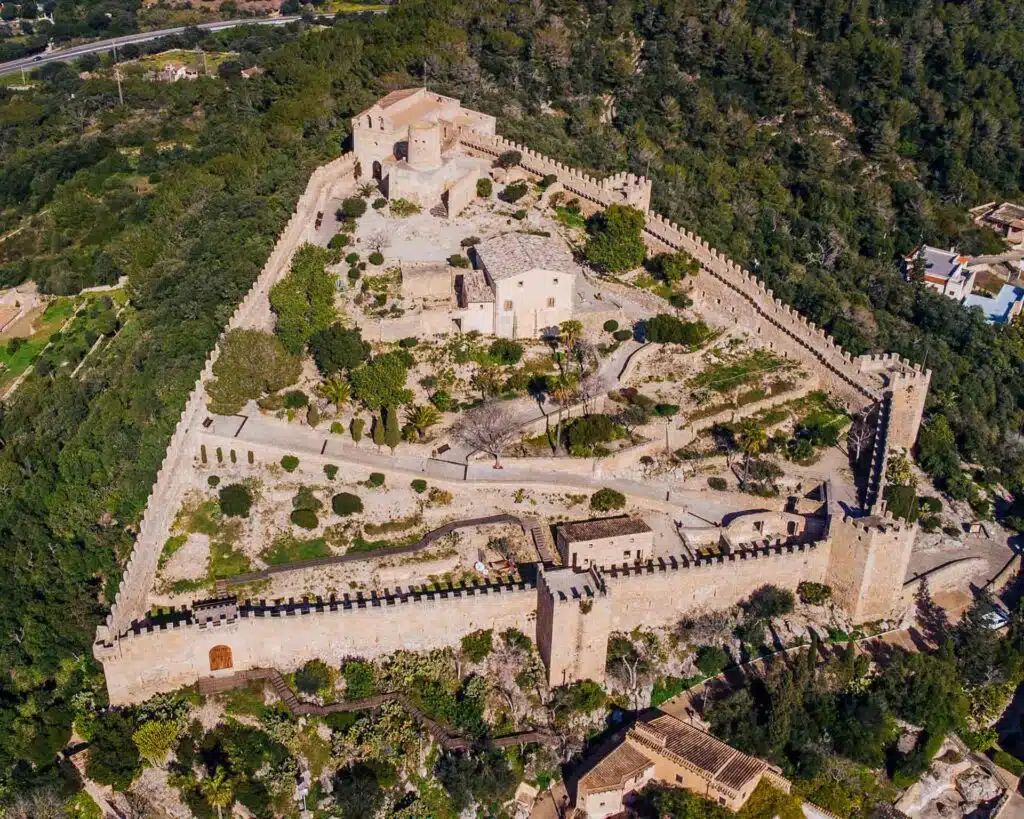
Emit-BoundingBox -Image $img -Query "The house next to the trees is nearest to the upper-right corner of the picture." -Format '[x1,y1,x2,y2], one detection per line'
[981,201,1024,272]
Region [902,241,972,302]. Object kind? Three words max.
house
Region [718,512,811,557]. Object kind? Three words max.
building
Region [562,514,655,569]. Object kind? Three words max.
house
